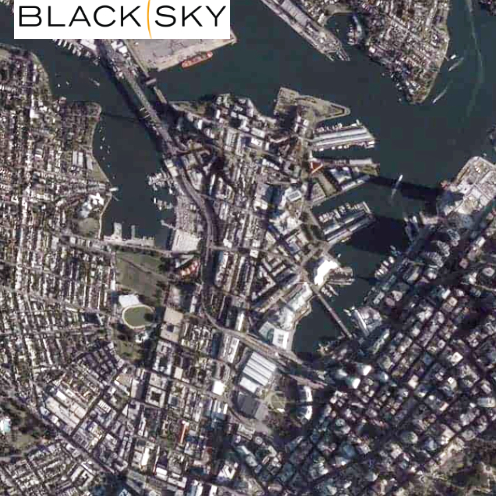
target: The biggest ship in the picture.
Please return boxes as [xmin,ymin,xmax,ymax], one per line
[182,51,212,66]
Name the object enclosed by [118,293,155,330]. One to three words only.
sports field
